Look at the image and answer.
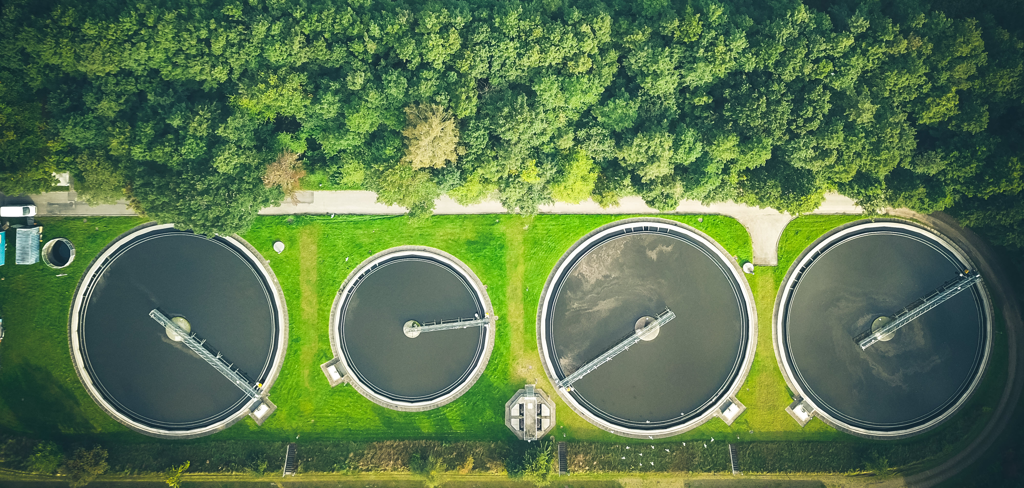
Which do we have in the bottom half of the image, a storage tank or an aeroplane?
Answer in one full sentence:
You can see a storage tank in the bottom half of the image.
